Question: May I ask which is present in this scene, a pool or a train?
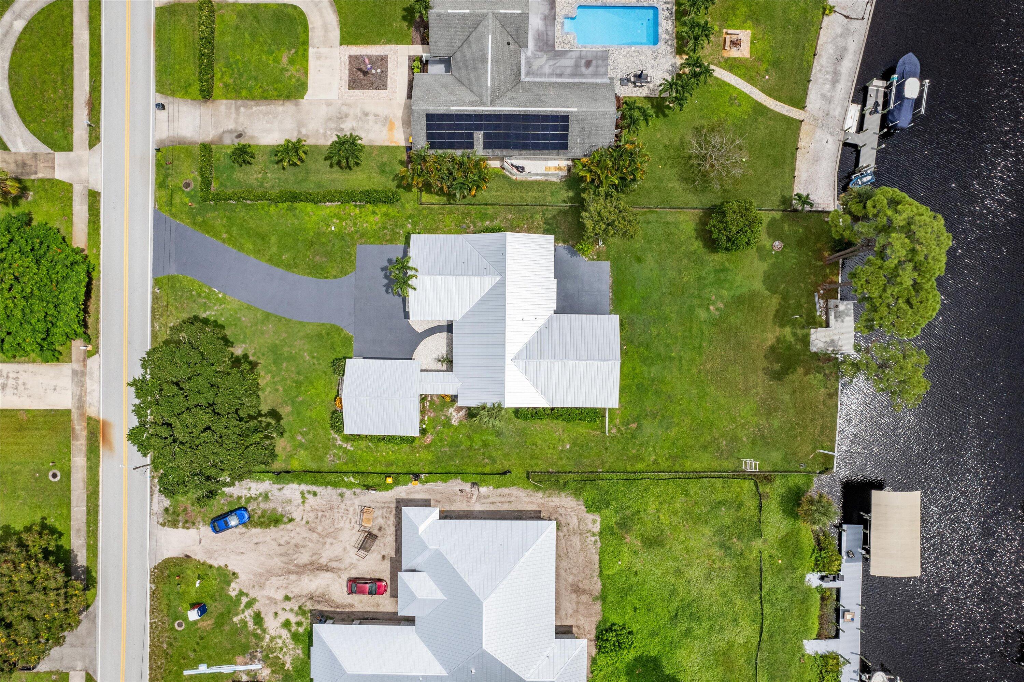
pool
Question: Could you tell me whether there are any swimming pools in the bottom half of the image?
No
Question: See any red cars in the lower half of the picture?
Yes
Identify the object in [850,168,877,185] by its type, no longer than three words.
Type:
boat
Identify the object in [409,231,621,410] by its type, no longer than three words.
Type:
house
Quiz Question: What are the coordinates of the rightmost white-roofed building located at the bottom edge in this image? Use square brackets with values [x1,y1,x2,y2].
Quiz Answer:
[313,506,588,682]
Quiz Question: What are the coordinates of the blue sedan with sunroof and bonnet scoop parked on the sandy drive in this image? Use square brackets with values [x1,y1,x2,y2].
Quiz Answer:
[209,507,250,535]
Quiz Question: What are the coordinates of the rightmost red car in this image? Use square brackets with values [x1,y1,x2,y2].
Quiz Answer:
[347,576,388,597]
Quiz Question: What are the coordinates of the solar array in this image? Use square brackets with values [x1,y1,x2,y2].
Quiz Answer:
[426,113,569,149]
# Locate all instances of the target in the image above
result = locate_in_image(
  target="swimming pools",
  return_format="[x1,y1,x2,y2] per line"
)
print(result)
[565,6,658,45]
